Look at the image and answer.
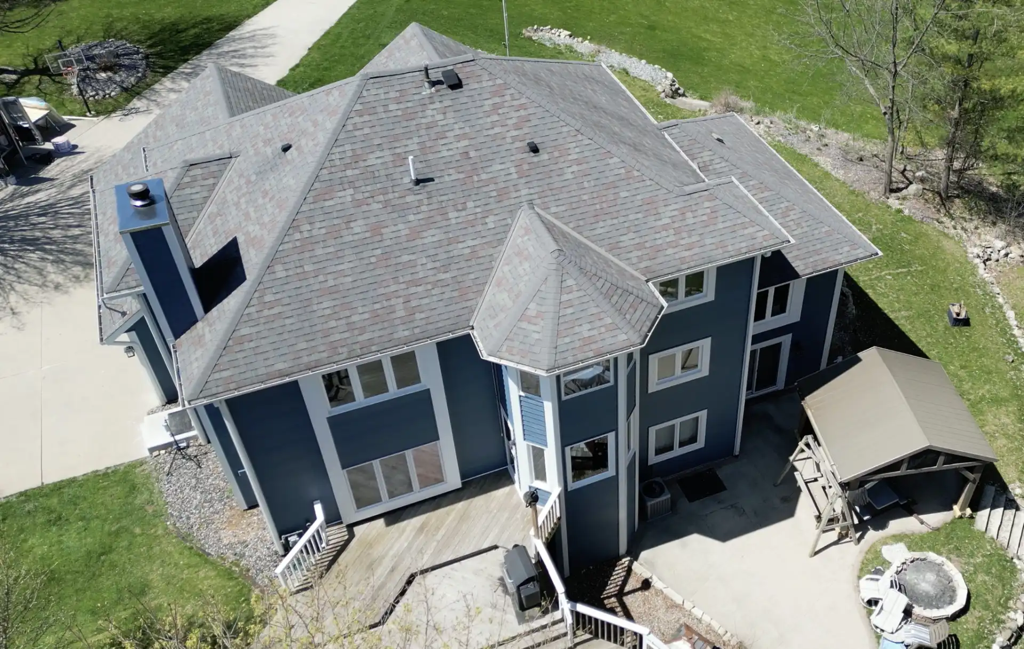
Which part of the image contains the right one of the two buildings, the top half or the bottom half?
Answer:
bottom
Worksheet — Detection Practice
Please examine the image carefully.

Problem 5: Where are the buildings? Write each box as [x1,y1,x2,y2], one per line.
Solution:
[84,21,880,580]
[795,353,997,538]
